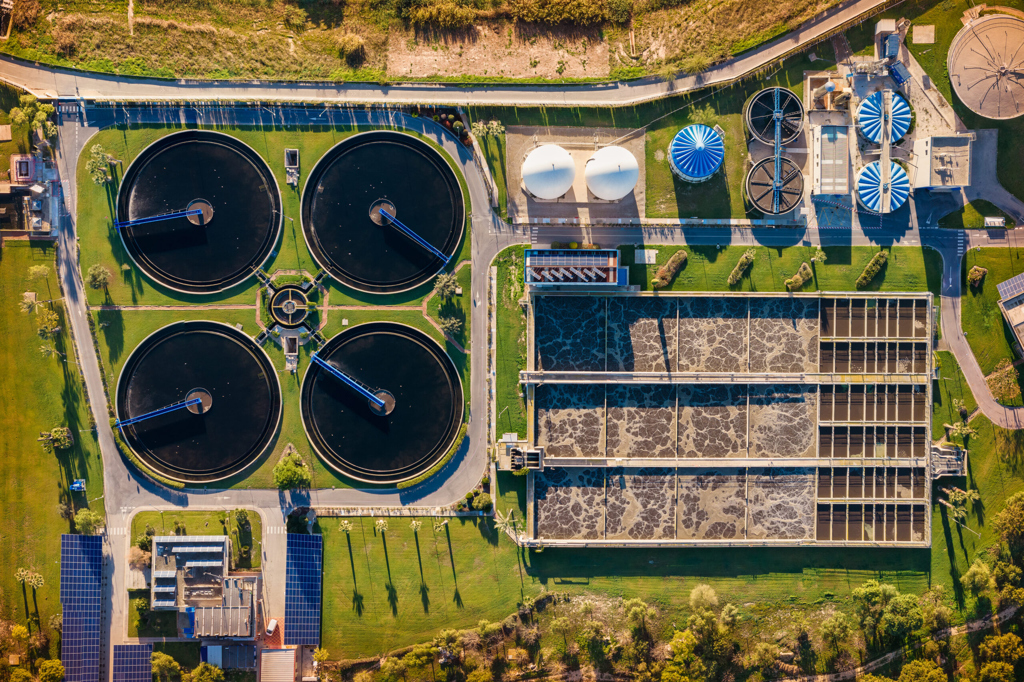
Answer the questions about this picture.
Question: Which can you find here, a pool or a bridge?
bridge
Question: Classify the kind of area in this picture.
industrial area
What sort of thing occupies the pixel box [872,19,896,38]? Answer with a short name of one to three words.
shed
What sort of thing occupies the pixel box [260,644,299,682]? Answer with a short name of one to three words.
shed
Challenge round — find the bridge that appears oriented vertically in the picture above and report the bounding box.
[769,84,781,214]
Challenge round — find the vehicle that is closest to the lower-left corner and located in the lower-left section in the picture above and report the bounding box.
[262,617,280,638]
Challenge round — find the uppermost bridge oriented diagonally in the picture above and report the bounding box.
[378,207,453,268]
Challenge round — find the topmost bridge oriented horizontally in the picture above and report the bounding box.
[112,207,202,234]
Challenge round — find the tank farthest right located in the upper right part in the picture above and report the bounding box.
[945,14,1024,121]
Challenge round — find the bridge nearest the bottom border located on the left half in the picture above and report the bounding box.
[113,398,202,433]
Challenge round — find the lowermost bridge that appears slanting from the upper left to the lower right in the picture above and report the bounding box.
[308,350,385,407]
